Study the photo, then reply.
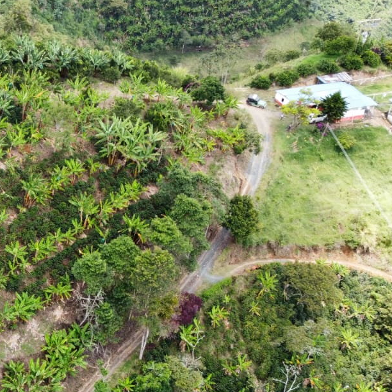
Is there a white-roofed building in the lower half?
No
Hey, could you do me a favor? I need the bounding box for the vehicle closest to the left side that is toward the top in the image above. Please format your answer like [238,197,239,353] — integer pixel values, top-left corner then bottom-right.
[247,92,267,106]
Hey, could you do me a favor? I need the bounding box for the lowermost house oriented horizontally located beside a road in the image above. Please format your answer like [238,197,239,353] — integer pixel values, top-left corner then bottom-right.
[275,80,378,123]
